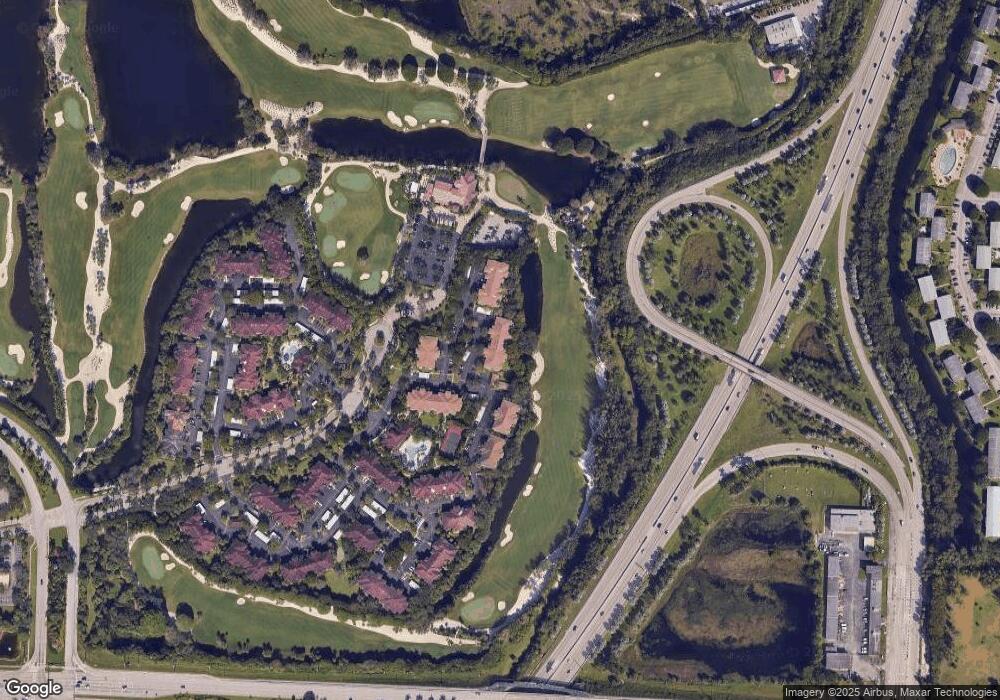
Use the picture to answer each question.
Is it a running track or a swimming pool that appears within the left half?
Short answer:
swimming pool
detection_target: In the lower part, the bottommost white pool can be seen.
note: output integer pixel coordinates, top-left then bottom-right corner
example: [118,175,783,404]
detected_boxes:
[399,433,434,473]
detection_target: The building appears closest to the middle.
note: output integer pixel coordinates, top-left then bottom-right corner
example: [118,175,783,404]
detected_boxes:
[482,316,514,373]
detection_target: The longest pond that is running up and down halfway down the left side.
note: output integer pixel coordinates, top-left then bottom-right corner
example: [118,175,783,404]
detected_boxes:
[10,201,58,430]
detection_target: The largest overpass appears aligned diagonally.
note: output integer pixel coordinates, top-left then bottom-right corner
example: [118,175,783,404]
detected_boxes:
[681,328,913,504]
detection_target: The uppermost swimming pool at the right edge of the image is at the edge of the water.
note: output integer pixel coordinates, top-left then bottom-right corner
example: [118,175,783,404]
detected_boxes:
[930,129,972,187]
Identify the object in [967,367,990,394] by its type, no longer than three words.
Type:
building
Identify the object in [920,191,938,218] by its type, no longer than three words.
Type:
building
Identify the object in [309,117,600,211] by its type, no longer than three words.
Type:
pond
